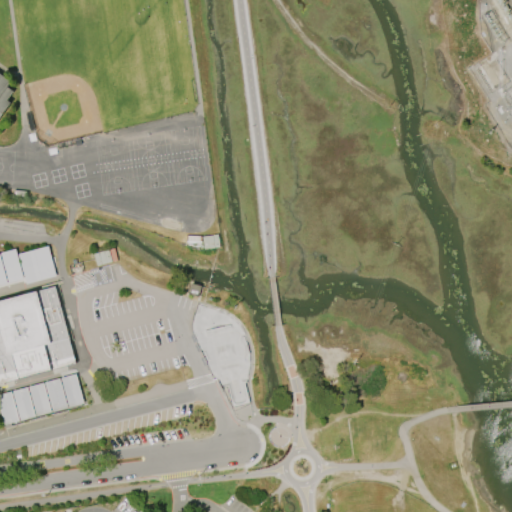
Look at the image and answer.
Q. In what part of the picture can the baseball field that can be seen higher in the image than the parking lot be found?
top left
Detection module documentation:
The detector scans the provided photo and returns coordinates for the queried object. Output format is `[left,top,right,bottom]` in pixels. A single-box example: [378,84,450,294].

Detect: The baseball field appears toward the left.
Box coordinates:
[16,0,203,144]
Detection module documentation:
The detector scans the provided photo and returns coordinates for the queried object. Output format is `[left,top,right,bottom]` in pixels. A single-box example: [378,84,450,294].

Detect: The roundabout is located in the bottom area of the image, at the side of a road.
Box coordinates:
[256,431,334,512]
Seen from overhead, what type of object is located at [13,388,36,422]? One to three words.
building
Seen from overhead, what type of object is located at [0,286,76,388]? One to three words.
building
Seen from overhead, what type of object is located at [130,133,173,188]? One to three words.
basketball court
